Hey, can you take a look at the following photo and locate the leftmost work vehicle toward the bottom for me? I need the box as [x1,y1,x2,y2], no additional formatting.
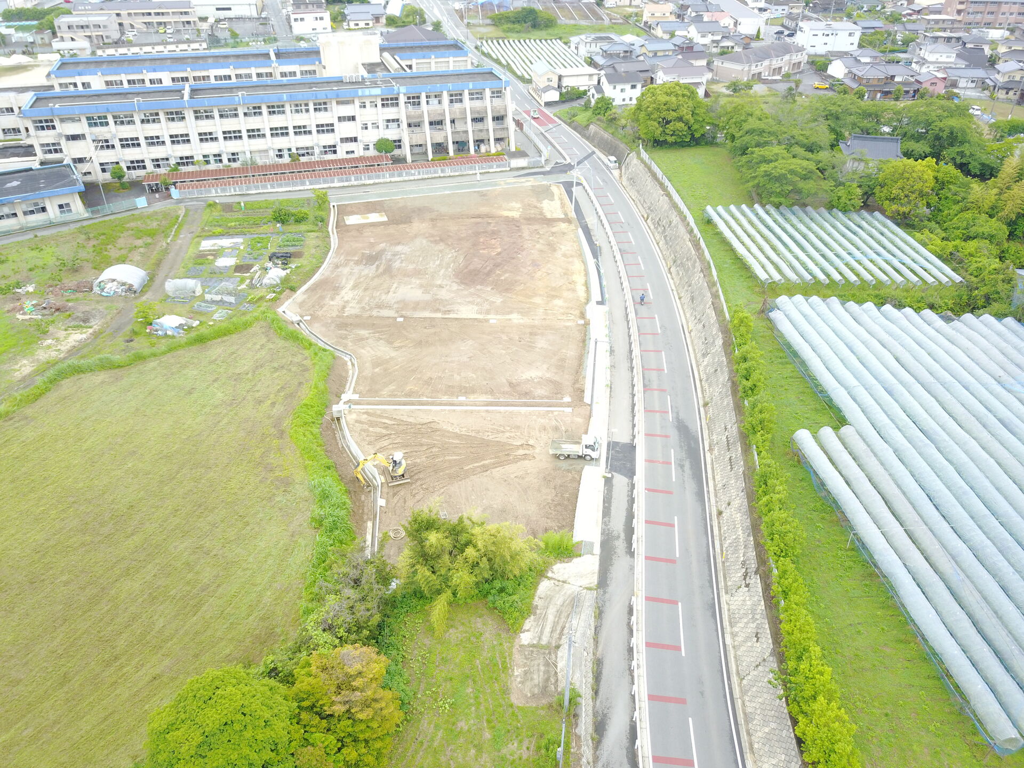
[354,449,407,489]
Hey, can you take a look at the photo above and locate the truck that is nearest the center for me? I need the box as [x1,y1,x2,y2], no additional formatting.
[550,435,601,463]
